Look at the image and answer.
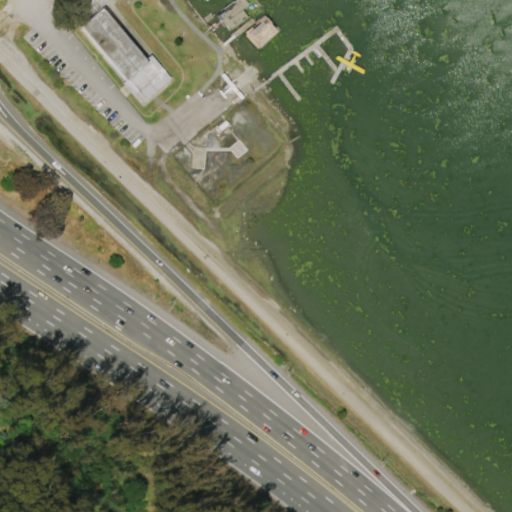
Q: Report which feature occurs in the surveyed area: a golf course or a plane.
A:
plane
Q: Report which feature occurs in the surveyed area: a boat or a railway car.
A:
boat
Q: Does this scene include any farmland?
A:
No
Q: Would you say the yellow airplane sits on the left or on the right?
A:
right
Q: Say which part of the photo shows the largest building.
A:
top left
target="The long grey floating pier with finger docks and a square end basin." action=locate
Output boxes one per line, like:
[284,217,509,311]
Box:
[254,26,356,102]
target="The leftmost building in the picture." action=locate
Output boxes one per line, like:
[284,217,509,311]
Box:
[82,8,173,105]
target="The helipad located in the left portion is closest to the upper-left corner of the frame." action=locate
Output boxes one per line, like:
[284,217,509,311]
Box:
[186,143,207,170]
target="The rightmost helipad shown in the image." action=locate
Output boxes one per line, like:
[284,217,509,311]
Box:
[230,140,249,159]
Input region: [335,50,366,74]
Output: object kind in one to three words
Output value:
airplane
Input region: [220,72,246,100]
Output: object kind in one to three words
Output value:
airplane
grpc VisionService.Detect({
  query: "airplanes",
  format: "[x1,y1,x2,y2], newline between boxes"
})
[335,50,366,74]
[220,72,246,100]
